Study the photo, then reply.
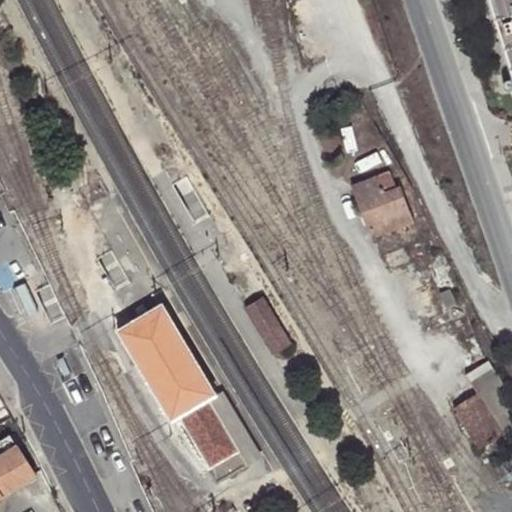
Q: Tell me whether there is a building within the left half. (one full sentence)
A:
Yes, a building is visible within the left half.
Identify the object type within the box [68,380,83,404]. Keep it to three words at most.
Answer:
vehicle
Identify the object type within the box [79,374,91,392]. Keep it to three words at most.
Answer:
vehicle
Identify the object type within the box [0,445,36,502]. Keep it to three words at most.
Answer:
house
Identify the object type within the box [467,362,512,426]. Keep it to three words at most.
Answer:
building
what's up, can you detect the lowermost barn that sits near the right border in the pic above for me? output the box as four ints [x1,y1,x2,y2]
[454,396,502,458]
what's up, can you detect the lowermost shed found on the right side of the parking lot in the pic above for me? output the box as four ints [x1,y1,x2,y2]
[211,454,247,483]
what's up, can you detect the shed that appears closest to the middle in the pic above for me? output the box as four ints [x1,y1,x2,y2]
[246,294,294,354]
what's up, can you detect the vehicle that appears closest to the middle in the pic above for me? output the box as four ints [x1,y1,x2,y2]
[342,194,356,220]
